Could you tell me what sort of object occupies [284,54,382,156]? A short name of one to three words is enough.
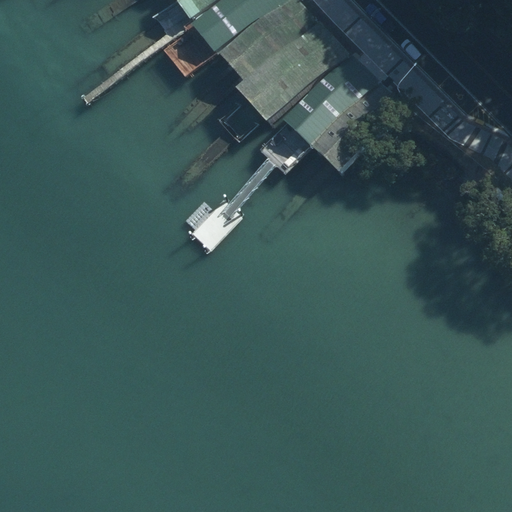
building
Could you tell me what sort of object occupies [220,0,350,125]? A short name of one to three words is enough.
building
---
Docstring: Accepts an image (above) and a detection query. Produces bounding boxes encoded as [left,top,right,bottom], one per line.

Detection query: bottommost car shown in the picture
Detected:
[402,40,421,59]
